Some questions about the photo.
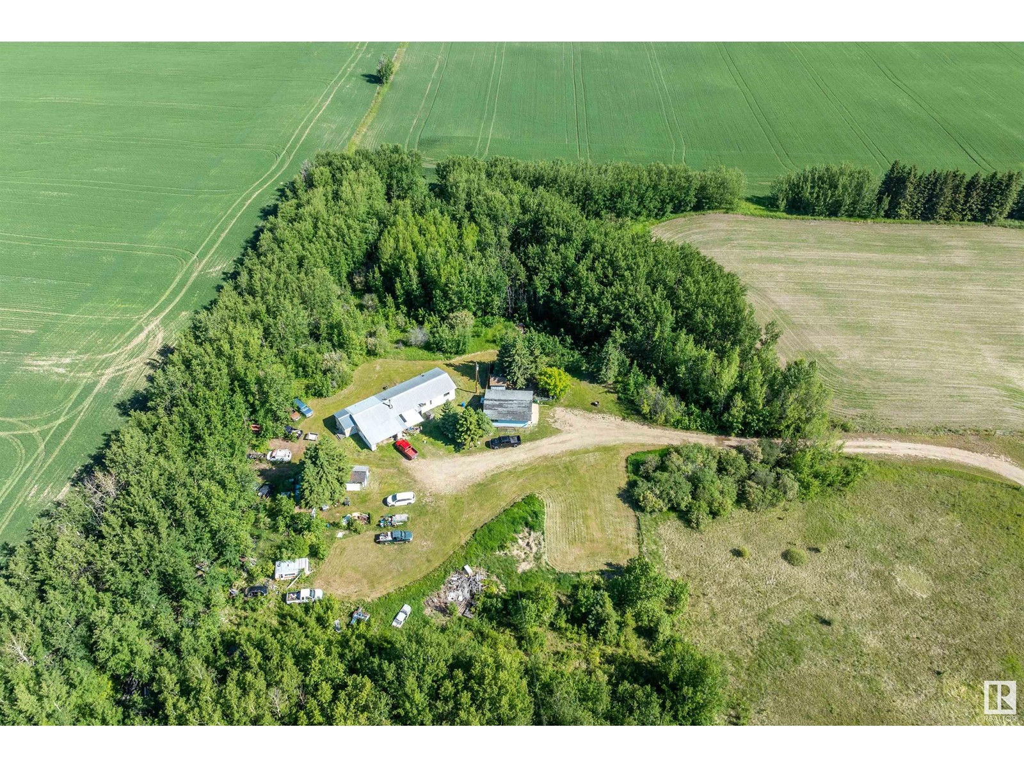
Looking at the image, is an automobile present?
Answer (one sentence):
Yes, the photo shows an automobile.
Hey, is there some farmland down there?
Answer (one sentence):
Yes, farmland shows up in the scene.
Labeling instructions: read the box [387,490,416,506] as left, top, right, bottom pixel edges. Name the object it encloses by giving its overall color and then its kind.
white car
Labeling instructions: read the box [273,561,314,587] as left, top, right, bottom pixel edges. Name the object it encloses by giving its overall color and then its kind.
white camper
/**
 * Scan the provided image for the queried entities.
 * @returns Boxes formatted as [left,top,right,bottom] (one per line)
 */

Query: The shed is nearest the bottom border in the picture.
[345,467,366,494]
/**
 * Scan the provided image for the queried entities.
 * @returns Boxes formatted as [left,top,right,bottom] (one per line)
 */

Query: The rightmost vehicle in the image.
[490,432,523,448]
